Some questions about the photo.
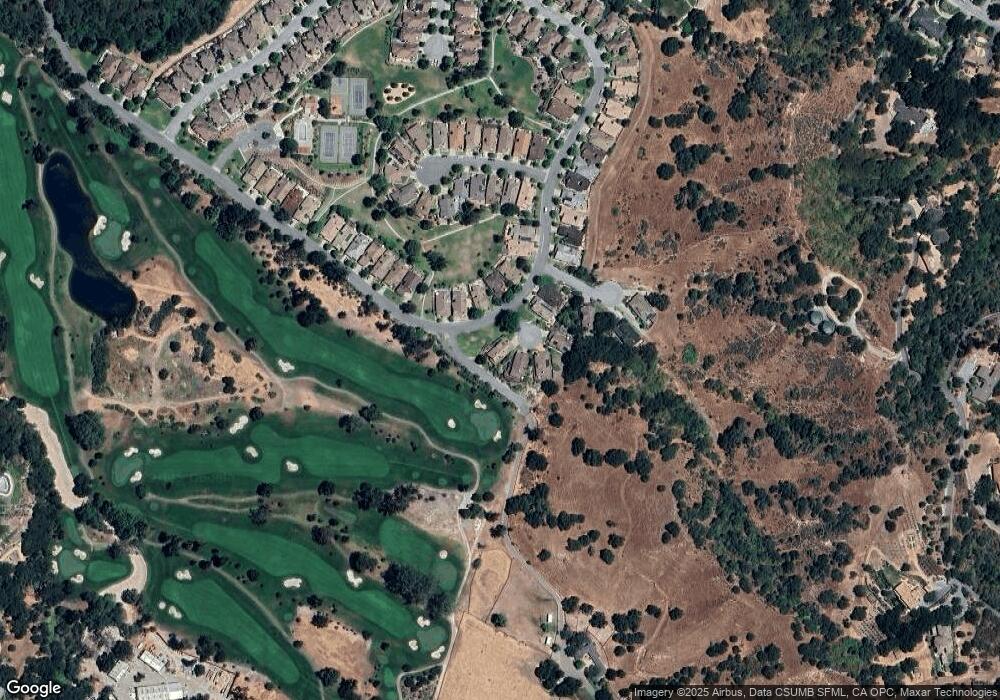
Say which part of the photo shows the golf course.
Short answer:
left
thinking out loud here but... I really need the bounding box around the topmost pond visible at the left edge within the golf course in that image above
[43,151,137,323]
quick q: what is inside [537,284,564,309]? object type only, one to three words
house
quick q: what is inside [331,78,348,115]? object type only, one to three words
sports court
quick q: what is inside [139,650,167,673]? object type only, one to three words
shed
